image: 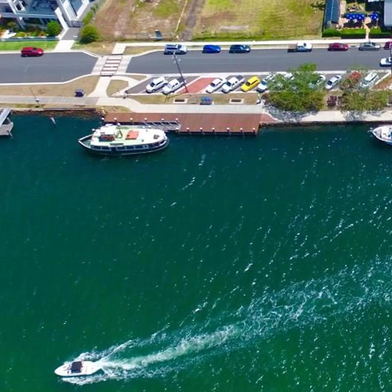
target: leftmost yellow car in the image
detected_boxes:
[242,75,260,89]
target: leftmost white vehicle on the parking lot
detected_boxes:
[147,76,166,90]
